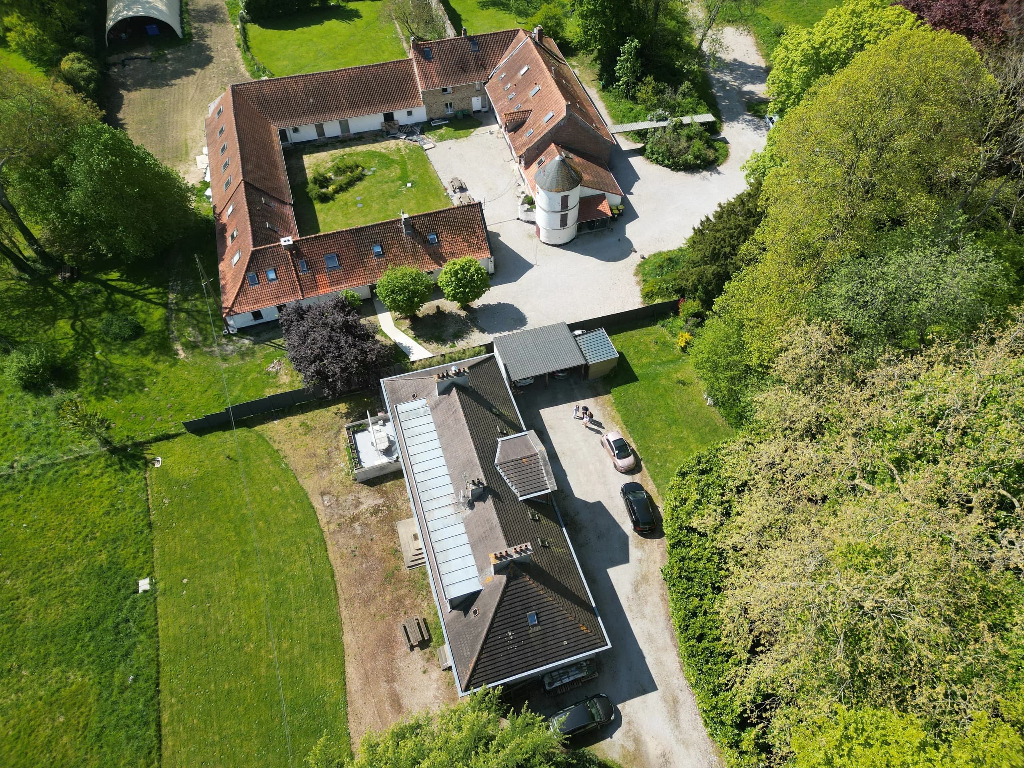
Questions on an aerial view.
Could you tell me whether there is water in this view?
No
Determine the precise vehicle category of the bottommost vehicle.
automobile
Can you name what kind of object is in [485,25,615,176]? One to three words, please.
barn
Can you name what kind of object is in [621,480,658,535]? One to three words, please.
car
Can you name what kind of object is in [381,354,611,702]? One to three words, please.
house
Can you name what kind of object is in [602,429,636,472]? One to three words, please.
car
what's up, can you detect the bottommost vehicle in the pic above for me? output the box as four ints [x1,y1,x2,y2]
[549,694,617,742]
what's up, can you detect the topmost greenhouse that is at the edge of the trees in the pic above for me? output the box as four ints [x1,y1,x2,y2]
[103,0,182,46]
